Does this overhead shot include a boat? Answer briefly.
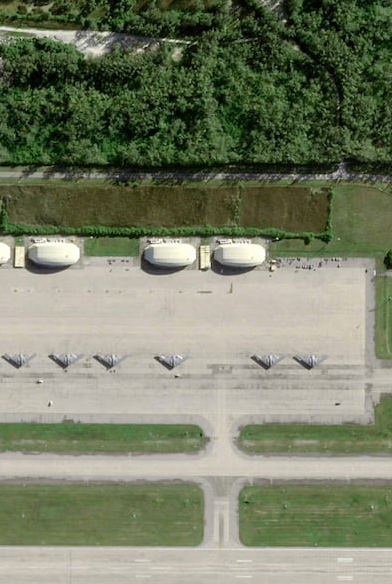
No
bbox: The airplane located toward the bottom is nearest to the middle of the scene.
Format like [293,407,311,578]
[160,354,187,367]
